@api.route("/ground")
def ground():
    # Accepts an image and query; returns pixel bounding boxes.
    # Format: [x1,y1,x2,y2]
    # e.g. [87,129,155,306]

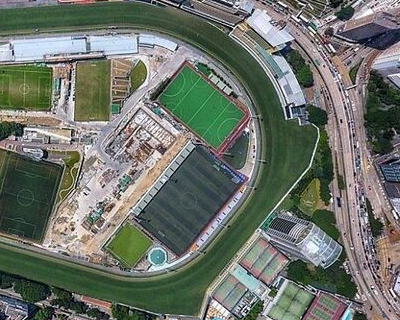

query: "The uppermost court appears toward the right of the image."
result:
[240,238,292,286]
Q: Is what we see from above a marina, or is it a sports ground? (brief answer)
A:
sports ground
